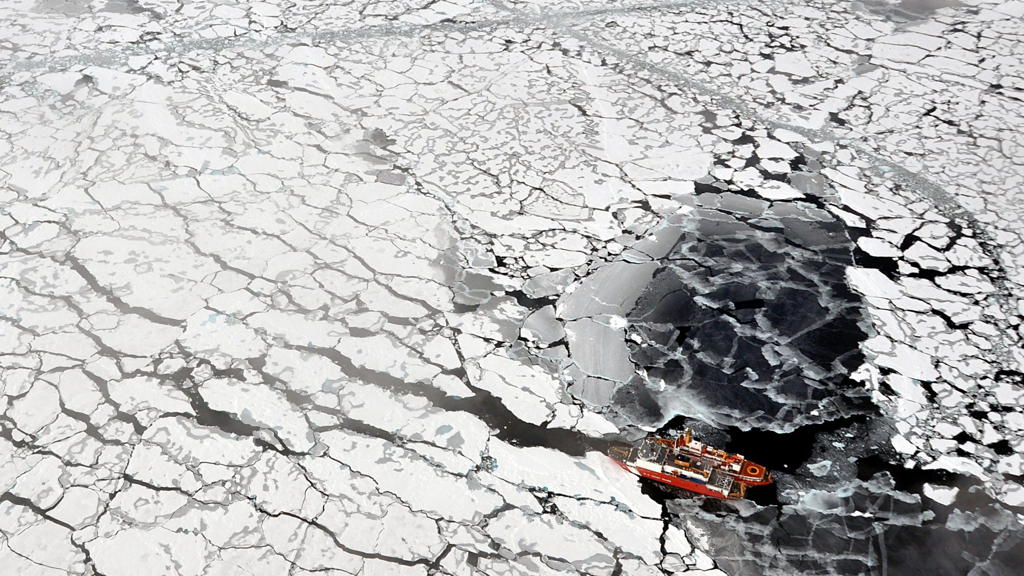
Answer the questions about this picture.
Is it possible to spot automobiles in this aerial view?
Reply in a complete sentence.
No, the photo shows no automobile.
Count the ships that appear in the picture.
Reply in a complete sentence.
Altogether the scene contains 2 ships.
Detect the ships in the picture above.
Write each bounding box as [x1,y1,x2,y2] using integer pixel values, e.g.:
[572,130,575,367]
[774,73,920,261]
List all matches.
[609,441,747,502]
[642,427,774,486]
